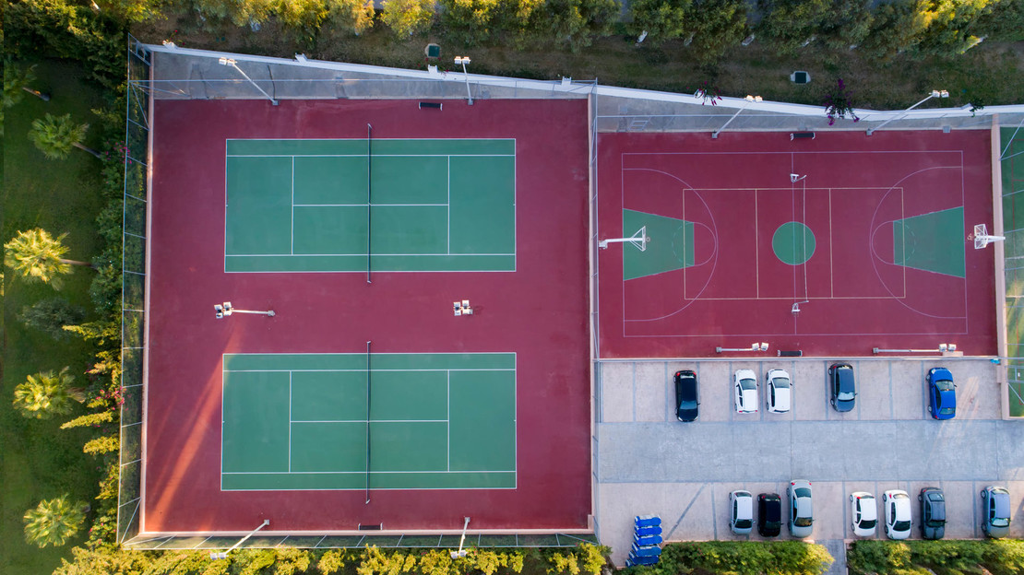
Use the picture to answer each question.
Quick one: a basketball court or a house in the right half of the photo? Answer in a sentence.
Visible in the right half of the photo is a basketball court.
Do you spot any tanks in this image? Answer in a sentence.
No, there is no tank in the image.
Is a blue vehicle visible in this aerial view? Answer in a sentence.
Yes, the image includes a blue vehicle.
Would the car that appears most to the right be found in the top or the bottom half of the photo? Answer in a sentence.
It is in the bottom half that the car that appears most to the right appears.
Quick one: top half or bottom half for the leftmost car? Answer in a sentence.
Seen from above, the leftmost car lies in the bottom half of the view.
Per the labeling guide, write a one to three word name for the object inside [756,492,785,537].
car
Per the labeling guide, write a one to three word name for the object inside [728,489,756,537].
car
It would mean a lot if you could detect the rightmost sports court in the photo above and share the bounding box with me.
[1002,127,1024,418]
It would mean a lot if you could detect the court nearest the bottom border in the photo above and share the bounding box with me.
[221,352,517,491]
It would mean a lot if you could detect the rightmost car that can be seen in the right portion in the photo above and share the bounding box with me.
[979,485,1013,539]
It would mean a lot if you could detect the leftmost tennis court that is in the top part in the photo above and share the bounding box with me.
[225,139,516,272]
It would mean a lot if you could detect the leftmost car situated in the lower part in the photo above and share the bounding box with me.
[674,371,701,422]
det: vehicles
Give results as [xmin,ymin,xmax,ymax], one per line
[827,363,858,412]
[925,367,957,421]
[728,489,756,537]
[733,369,761,414]
[849,491,880,537]
[765,368,793,414]
[756,492,785,537]
[786,479,816,538]
[979,485,1013,539]
[916,486,949,540]
[881,489,914,540]
[674,371,701,422]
